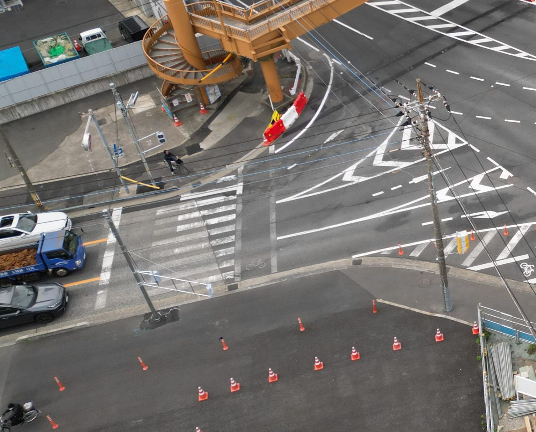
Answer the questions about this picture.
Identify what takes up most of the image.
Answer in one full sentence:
The bulk of the photo consists of paved ground.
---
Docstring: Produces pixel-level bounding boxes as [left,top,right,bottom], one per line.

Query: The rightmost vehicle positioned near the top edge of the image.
[116,3,148,40]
